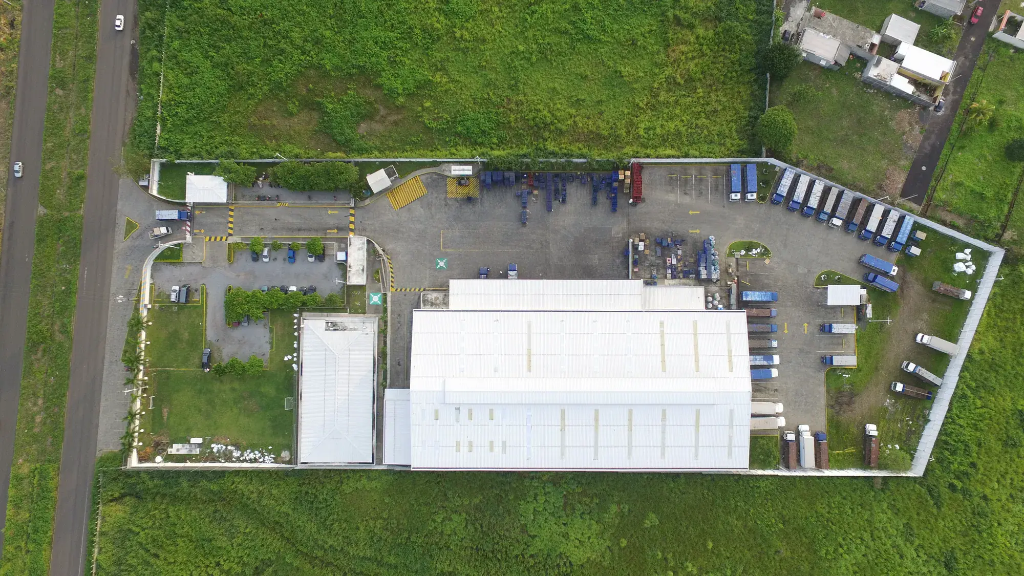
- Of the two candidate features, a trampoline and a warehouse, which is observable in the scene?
warehouse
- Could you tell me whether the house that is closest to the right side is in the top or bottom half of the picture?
top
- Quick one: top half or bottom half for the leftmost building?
top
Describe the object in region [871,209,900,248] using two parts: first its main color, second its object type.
white truck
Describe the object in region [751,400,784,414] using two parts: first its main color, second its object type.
white vehicle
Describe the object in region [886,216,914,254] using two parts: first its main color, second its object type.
blue truck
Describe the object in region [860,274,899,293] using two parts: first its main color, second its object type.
blue vehicle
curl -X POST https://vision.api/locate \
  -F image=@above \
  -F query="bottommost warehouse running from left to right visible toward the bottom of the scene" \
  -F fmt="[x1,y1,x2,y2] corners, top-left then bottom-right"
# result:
[410,309,752,471]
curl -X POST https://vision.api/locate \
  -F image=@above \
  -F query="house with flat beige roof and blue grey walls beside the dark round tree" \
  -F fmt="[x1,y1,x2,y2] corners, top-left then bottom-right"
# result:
[793,28,851,73]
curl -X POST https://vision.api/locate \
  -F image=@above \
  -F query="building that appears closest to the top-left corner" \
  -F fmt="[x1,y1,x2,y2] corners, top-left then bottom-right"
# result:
[186,172,230,203]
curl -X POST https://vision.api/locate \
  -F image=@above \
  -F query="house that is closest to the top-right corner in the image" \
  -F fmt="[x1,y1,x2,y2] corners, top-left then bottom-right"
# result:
[992,11,1024,51]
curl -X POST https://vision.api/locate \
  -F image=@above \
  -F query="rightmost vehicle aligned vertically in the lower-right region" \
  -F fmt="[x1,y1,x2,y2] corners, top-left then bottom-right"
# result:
[864,423,879,466]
